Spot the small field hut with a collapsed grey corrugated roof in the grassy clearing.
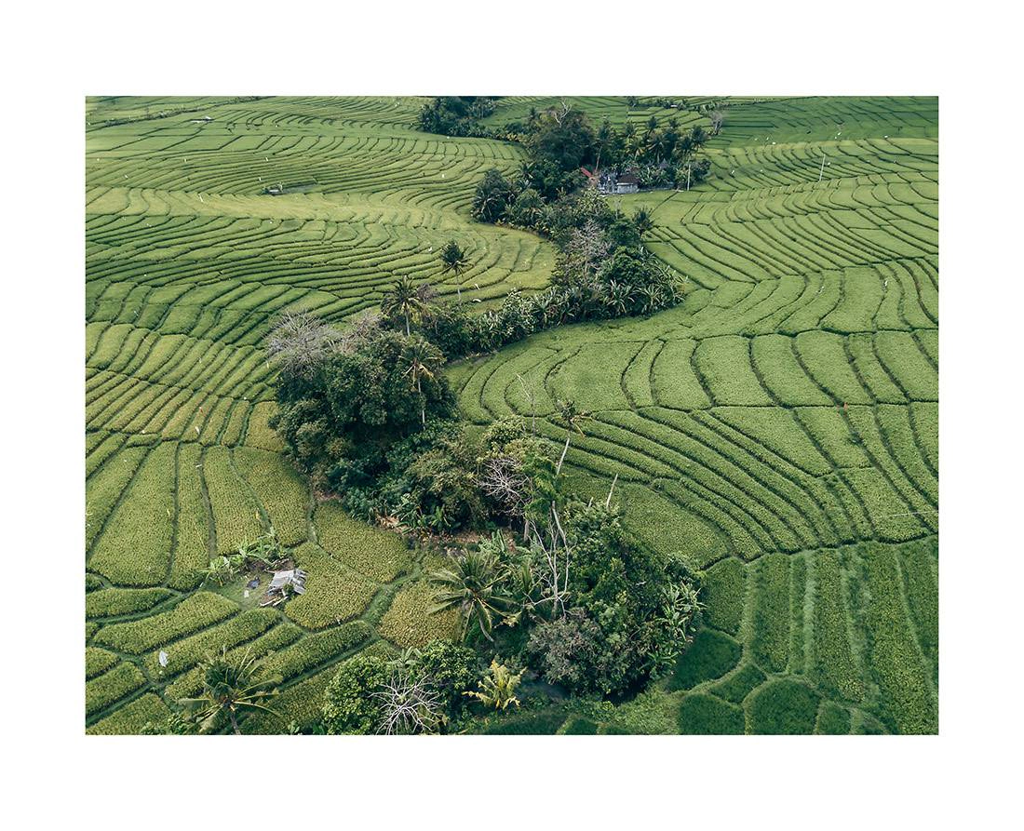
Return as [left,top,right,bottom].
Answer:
[267,570,306,602]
